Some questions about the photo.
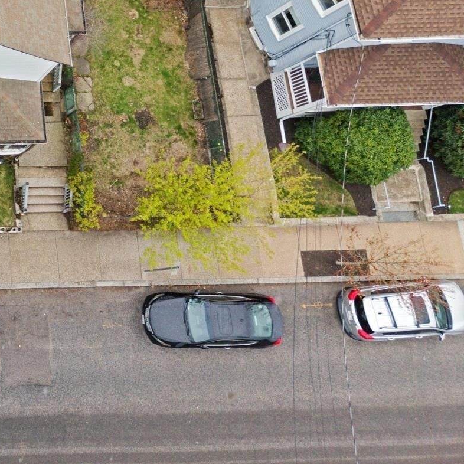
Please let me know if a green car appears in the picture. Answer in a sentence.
No, the frame has no green car in it.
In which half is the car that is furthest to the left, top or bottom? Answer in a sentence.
The bottom half of the photo is where the car that is furthest to the left is.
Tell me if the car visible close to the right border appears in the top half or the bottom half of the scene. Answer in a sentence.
The car visible close to the right border sits in the bottom half of the picture.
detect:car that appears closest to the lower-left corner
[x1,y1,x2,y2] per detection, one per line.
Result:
[142,292,287,352]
